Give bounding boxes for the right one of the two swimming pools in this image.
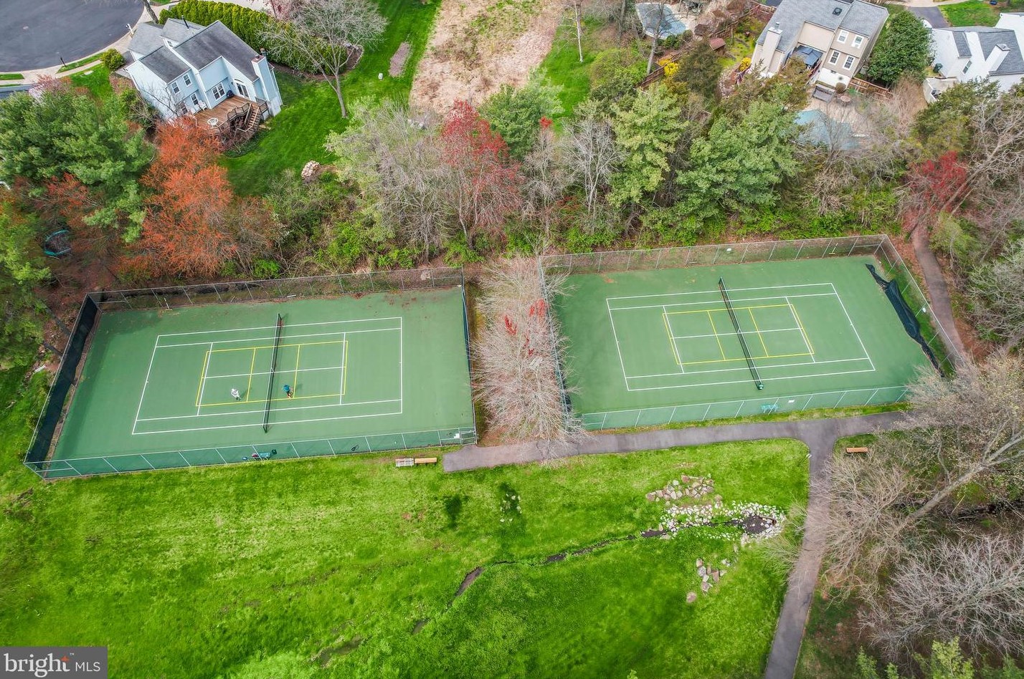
[797,108,861,152]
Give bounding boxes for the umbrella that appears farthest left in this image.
[690,18,714,36]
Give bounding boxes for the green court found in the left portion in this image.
[48,287,476,470]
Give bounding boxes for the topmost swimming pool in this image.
[635,1,688,39]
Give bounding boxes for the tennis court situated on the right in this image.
[541,255,948,432]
